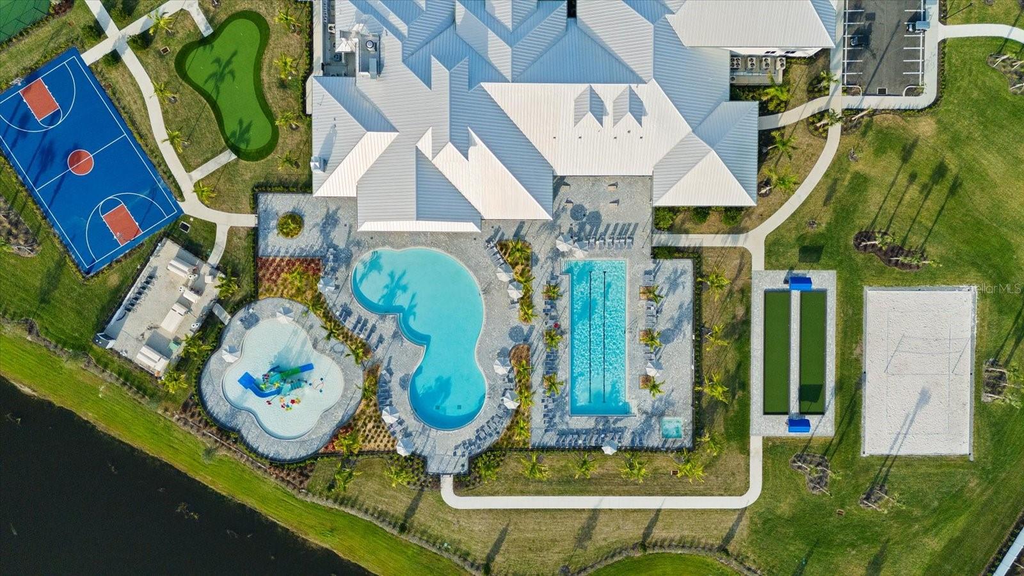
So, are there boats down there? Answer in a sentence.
No, I find no boat anywhere in the image.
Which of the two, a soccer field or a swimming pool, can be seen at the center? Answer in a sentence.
Visible at the center is a swimming pool.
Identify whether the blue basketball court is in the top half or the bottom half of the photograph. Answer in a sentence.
The blue basketball court is in the top half of the image.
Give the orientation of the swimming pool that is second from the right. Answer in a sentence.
I'd say the swimming pool that is second from the right is aligned up and down in the picture.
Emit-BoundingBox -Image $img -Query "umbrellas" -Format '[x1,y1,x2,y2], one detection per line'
[645,359,662,376]
[396,437,413,455]
[555,234,573,251]
[222,344,241,362]
[493,357,510,374]
[501,391,519,409]
[600,439,618,457]
[507,282,524,299]
[277,306,294,323]
[381,406,399,423]
[573,240,591,258]
[319,275,337,293]
[496,265,513,282]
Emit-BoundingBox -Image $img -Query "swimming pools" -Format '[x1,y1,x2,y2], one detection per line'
[560,257,633,417]
[661,418,684,444]
[221,317,345,441]
[349,245,488,432]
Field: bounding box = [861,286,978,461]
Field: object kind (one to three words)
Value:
sports court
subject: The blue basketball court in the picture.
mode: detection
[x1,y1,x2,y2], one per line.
[0,49,183,276]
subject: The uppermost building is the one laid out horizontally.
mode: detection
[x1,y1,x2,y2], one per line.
[312,0,836,233]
